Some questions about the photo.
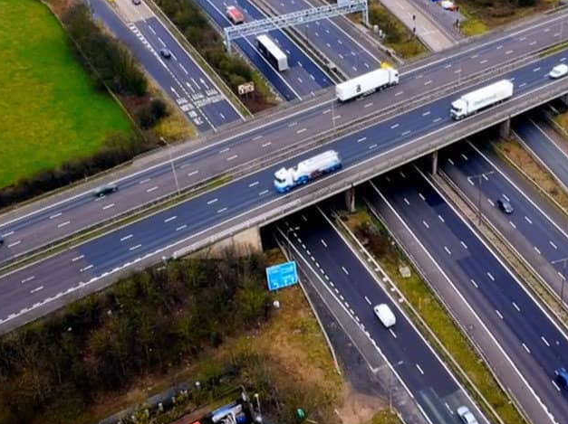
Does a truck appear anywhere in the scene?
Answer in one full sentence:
Yes, the frame does contain a truck.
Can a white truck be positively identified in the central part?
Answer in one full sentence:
Yes, I can see a white truck in the central part.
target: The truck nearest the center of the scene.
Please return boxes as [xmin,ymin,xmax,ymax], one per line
[274,150,342,193]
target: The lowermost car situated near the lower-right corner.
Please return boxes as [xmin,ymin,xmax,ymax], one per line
[458,406,480,424]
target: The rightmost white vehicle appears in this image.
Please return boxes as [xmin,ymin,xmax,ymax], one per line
[550,62,567,75]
